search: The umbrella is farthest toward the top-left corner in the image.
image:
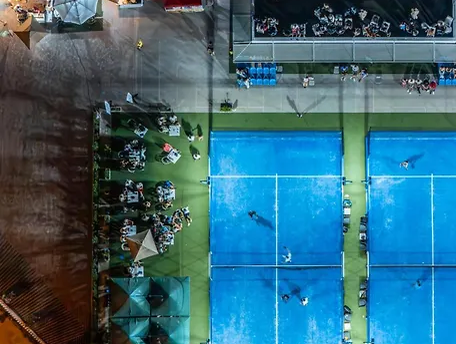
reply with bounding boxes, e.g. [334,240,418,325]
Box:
[8,5,36,35]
